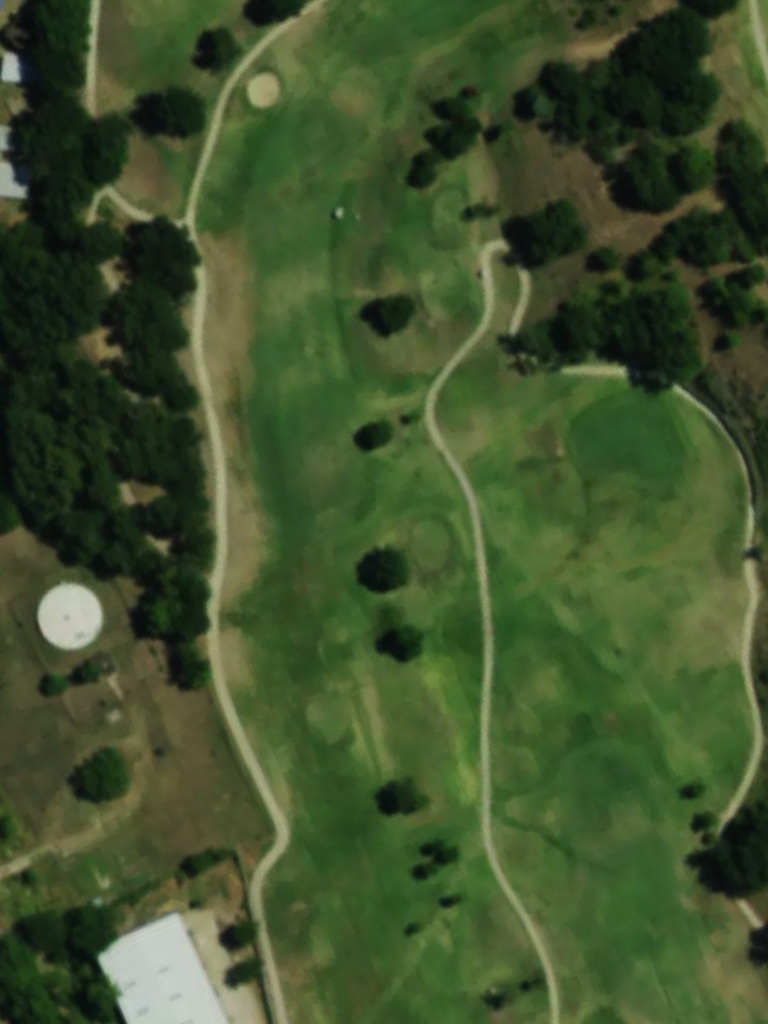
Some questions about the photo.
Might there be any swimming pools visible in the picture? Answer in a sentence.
No, no swimming pool is visible in the scene.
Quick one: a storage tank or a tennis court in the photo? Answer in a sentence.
Of the two, only a storage tank appears.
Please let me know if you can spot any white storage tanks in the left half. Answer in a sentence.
Yes, I can see a white storage tank in the left half.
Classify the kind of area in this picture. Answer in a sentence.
This image shows a golf course.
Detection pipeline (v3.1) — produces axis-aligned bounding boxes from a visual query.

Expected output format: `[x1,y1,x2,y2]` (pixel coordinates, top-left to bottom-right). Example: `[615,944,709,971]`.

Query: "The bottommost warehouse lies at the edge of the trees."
[95,914,231,1024]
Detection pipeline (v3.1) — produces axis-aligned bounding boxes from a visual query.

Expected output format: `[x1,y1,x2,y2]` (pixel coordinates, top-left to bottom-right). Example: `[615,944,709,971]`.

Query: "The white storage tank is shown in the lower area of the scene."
[37,583,103,648]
